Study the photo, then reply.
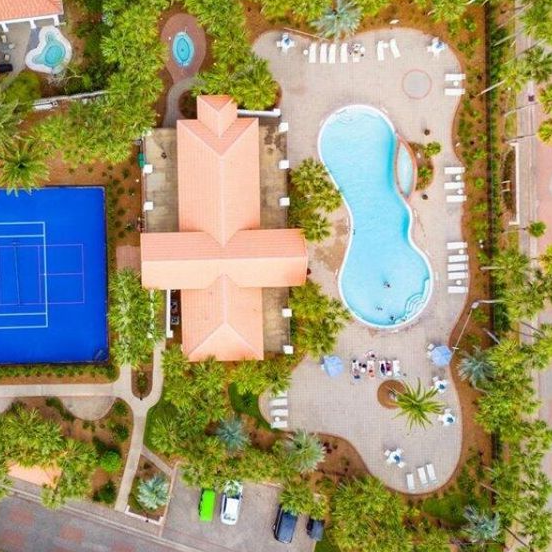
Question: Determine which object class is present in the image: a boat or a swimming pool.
swimming pool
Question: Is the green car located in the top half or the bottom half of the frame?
bottom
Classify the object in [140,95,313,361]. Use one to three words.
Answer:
building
